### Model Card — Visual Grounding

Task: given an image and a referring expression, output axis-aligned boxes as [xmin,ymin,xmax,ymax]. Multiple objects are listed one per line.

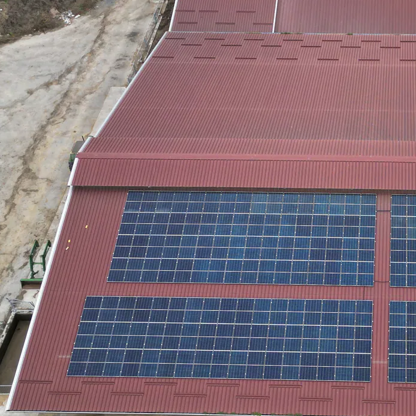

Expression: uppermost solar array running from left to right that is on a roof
[107,190,378,286]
